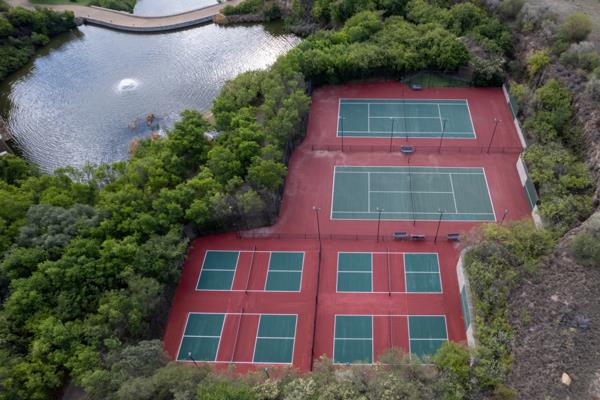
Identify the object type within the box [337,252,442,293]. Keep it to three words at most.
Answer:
sports court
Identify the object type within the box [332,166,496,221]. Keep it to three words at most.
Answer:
tennis court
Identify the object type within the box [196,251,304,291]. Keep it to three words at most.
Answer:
sports court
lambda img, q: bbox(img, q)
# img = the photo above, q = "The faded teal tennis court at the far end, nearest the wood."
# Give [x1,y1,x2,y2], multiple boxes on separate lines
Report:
[337,99,476,138]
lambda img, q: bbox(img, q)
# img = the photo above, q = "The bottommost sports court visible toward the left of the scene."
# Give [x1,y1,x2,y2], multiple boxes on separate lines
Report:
[176,313,297,363]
